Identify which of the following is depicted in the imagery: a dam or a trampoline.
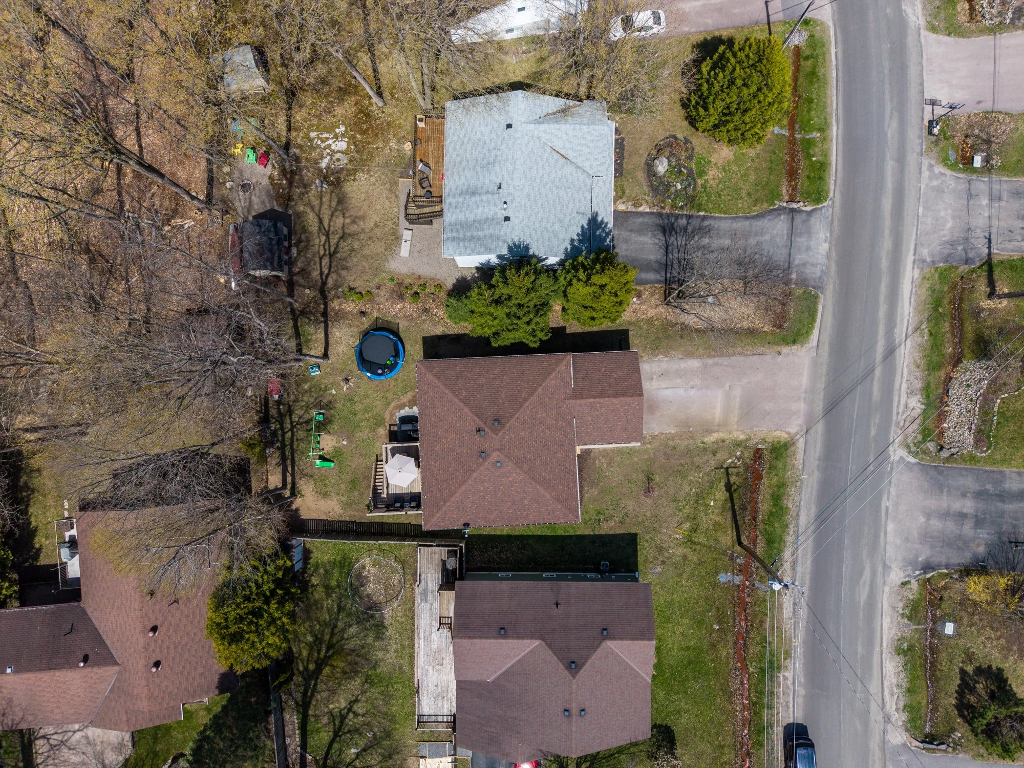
trampoline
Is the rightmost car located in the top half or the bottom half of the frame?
bottom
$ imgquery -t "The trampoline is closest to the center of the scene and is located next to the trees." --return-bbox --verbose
[354,329,406,380]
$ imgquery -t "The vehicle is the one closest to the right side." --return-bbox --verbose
[787,737,816,768]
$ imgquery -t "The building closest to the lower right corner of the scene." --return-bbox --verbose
[453,571,655,763]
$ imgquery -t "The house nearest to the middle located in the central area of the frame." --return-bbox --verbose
[414,348,644,531]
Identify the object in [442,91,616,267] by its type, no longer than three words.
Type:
house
